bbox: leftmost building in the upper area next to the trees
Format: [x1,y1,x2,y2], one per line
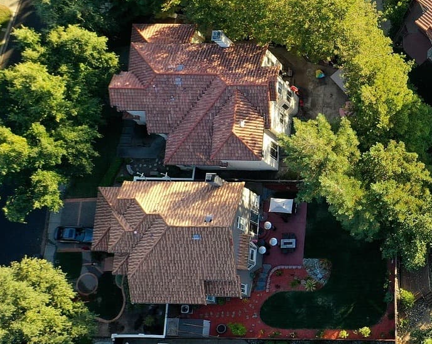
[108,22,295,172]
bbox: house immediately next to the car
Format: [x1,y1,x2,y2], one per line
[89,172,260,304]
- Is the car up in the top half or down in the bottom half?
bottom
